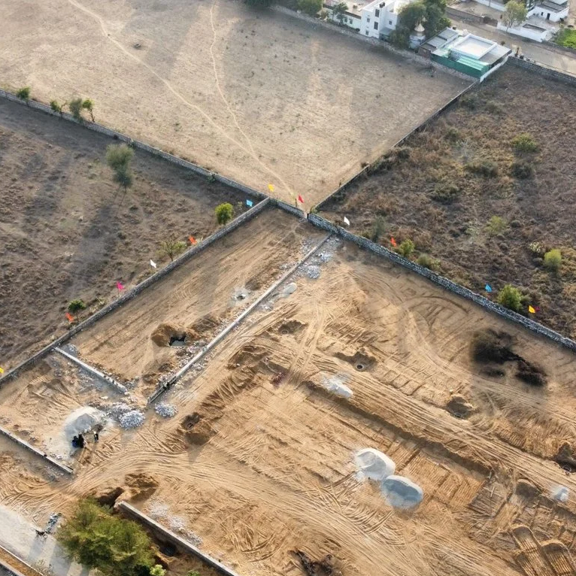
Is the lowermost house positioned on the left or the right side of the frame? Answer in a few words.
right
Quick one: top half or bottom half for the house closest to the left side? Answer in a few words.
top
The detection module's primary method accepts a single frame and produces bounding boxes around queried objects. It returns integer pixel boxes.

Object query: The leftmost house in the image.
[331,0,376,33]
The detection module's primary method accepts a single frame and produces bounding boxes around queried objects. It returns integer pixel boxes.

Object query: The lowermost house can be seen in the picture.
[420,28,511,78]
